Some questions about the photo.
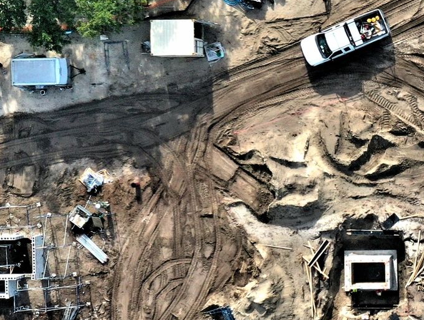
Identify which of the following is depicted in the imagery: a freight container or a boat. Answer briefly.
freight container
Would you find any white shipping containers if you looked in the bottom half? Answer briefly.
No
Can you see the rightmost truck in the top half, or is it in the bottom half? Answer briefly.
top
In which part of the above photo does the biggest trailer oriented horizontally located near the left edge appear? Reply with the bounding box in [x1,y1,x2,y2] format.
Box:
[7,52,89,90]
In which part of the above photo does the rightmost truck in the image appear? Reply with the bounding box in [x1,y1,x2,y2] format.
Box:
[301,8,397,68]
